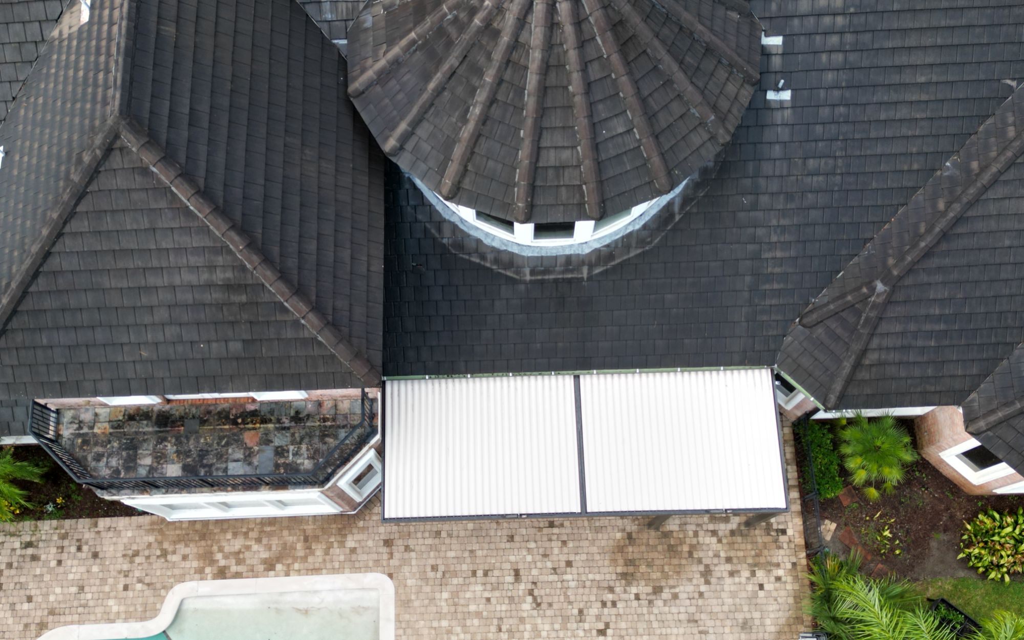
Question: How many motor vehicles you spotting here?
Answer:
0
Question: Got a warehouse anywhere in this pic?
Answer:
No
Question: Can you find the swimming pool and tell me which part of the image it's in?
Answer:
bottom left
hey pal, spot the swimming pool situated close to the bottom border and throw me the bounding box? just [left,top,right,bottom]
[38,573,395,640]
